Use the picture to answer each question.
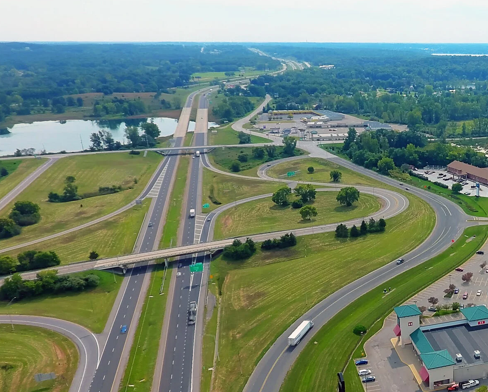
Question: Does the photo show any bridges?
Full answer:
Yes, you can see a bridge in this photo.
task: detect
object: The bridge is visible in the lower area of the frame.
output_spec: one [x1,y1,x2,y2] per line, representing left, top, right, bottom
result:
[94,235,238,277]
